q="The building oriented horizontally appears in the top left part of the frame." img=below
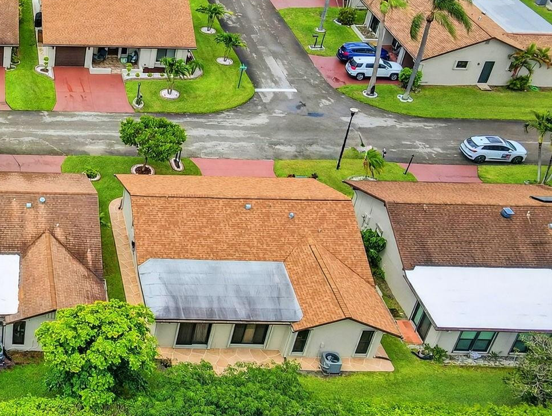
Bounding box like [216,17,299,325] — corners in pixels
[40,0,197,74]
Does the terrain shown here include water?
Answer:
No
